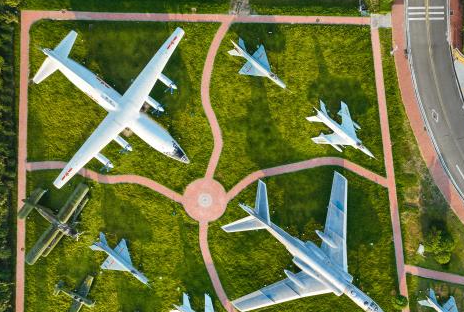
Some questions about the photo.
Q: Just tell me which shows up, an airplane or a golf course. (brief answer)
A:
airplane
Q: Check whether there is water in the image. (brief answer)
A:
No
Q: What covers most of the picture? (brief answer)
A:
grass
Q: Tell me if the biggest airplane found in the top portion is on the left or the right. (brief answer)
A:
left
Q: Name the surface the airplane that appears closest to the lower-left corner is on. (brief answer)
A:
grass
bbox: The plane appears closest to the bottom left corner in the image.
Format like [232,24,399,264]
[53,274,95,312]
